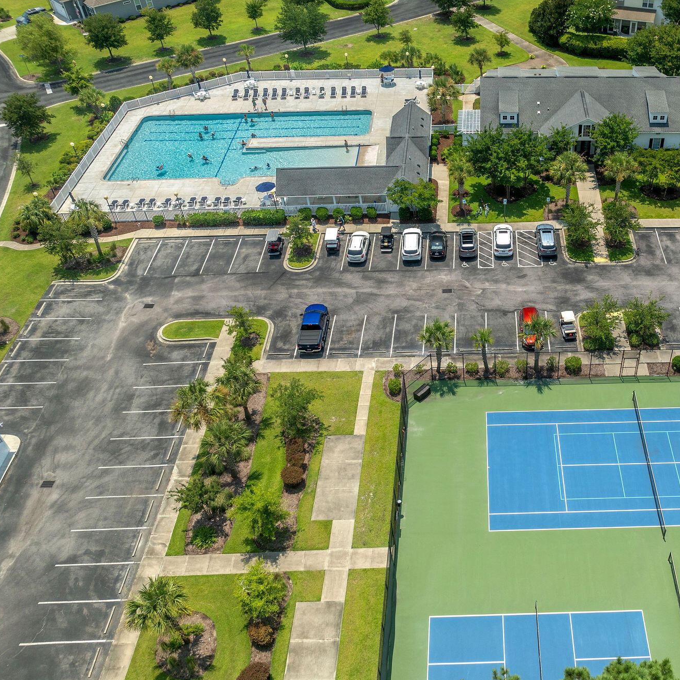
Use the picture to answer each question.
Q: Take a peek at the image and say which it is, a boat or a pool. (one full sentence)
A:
Visible in the photo is a pool.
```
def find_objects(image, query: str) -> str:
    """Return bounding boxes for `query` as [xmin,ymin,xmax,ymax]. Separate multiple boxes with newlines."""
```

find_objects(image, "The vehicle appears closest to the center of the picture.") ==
[293,303,327,352]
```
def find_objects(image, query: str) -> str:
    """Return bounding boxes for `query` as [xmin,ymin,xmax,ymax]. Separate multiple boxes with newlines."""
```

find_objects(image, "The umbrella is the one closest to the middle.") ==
[249,178,276,194]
